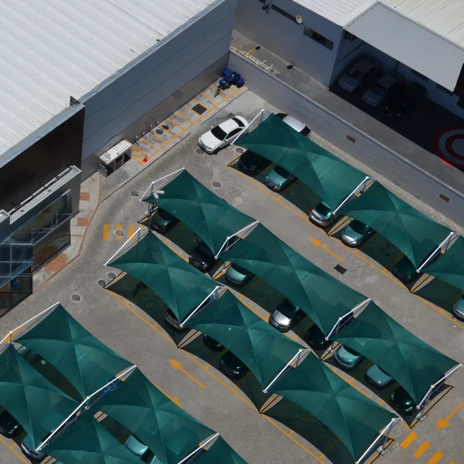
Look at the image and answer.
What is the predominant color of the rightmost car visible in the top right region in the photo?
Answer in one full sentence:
In this view, the rightmost car visible in the top right region is black.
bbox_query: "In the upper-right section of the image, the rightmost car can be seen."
[385,78,428,119]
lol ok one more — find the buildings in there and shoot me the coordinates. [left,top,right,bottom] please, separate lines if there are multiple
[0,0,239,317]
[331,0,464,113]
